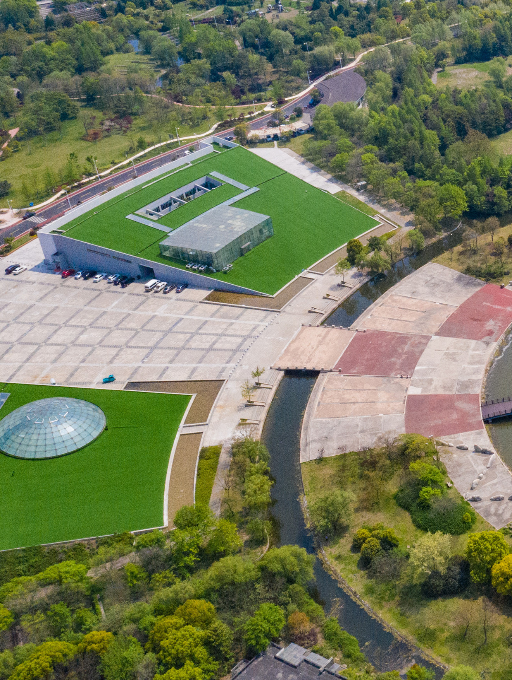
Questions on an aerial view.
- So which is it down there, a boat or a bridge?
bridge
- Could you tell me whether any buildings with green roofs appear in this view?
Yes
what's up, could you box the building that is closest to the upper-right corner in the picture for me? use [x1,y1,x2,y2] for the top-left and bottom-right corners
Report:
[314,69,368,109]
